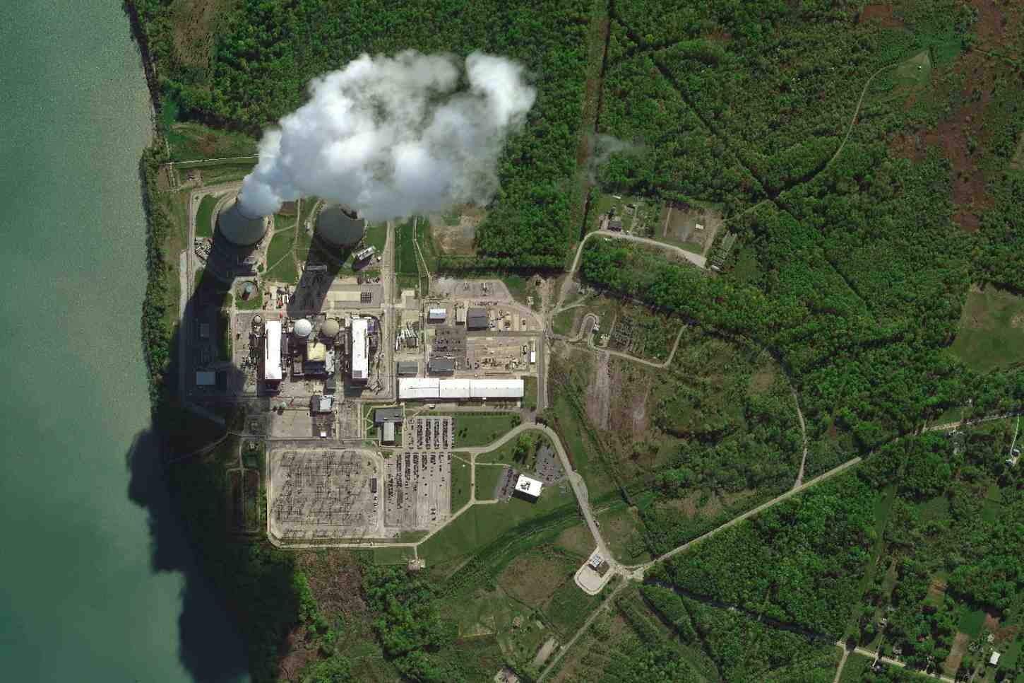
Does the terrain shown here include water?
Yes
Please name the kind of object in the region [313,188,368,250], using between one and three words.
cooling tower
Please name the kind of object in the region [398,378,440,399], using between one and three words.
building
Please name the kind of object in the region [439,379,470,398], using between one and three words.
building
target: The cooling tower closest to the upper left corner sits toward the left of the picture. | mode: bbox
[214,187,269,250]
